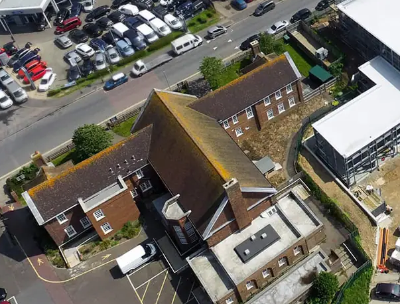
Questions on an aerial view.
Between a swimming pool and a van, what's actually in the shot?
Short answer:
van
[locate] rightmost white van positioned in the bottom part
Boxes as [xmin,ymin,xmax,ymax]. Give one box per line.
[108,248,155,279]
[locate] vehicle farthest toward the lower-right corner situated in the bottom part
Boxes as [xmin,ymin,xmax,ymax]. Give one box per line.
[372,283,400,302]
